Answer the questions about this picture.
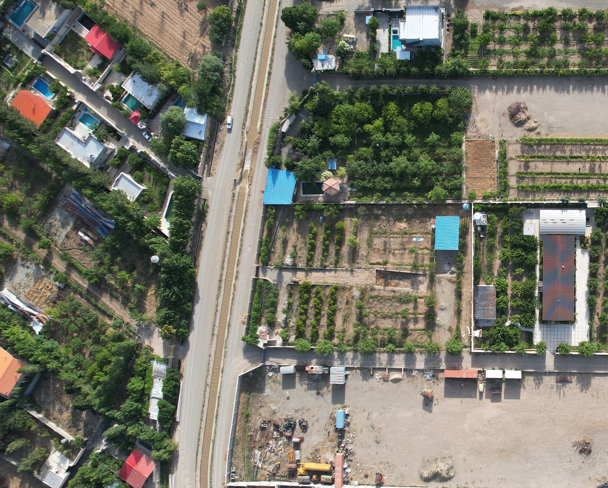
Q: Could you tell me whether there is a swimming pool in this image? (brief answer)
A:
Yes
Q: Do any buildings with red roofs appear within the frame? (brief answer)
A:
Yes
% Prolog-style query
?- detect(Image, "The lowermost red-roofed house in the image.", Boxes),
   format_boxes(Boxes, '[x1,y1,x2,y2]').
[118,447,161,488]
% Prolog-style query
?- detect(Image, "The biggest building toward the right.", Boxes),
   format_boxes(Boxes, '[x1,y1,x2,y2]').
[543,236,574,320]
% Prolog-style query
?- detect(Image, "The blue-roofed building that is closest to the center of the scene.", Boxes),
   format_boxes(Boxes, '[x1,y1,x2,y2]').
[262,168,299,204]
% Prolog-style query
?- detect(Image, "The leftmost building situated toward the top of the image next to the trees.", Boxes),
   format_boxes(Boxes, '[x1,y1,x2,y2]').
[12,90,58,124]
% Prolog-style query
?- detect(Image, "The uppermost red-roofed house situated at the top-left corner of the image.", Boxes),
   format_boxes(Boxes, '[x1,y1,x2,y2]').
[85,25,121,61]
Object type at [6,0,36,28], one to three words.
swimming pool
